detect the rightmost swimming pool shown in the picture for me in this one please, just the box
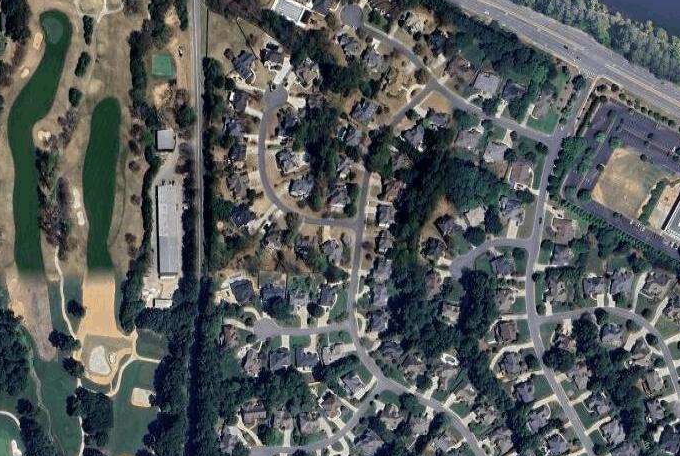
[441,353,457,366]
